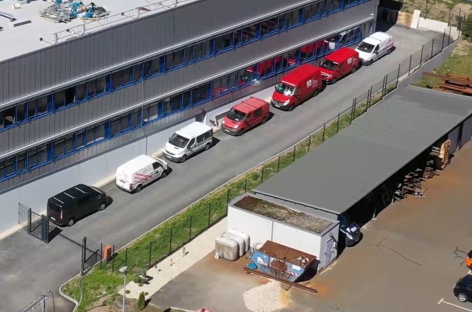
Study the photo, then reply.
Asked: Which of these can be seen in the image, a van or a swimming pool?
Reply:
van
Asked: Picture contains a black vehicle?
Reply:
Yes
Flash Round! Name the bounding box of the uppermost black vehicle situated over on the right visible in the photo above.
[338,214,365,251]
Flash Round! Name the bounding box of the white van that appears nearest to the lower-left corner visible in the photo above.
[114,155,172,194]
